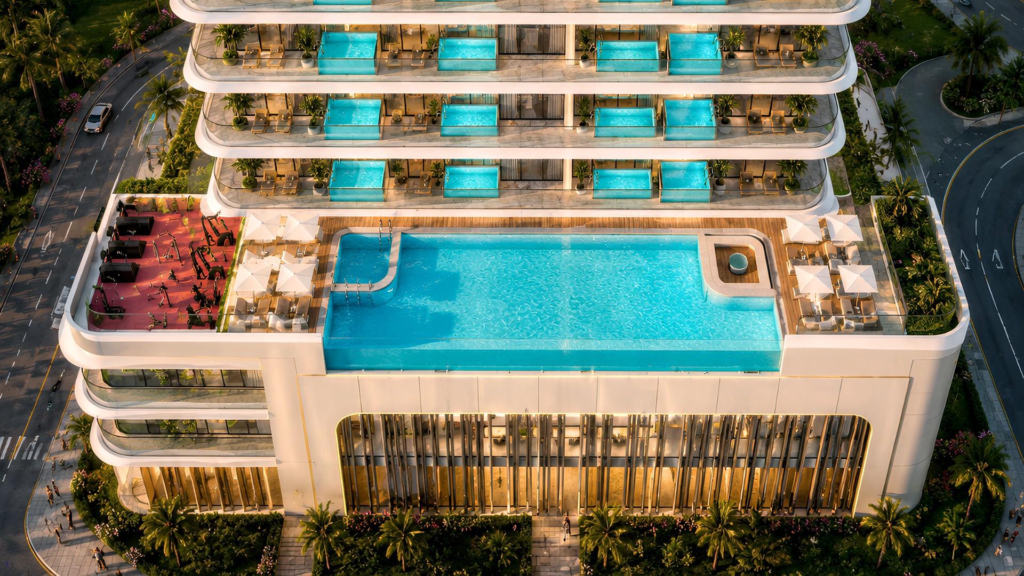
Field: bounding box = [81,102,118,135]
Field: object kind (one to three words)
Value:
car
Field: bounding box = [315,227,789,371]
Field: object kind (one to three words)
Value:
swimming pool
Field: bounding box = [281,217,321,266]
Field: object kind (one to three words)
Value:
umbrella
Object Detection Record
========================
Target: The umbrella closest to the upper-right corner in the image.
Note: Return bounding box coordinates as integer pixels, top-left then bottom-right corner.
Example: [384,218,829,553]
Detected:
[823,218,865,265]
